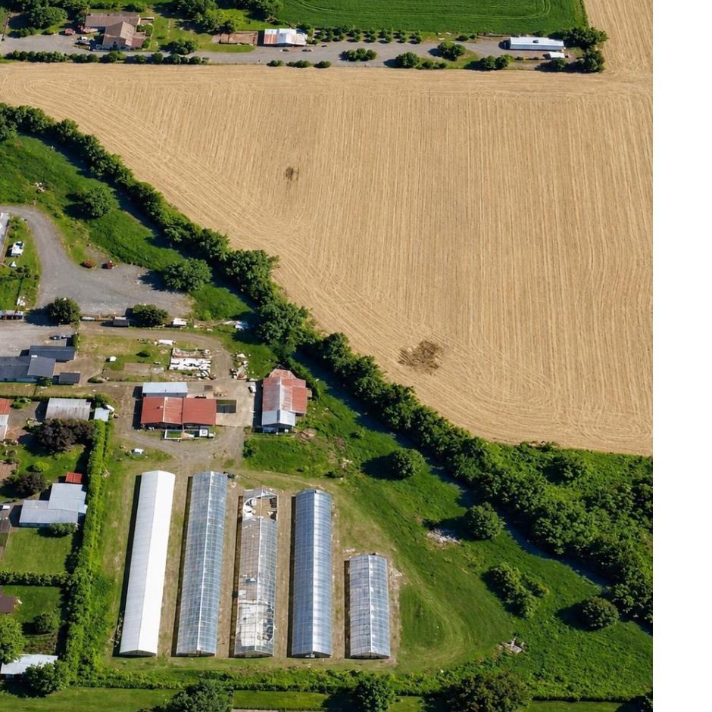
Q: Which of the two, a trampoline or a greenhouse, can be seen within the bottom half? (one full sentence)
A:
The feature located within the bottom half is a greenhouse.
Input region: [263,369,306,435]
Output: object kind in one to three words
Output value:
barn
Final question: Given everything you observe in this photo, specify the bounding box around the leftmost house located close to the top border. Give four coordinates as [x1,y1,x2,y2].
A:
[85,11,143,54]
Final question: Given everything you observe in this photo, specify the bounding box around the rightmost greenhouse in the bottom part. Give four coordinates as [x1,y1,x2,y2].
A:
[349,554,390,661]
